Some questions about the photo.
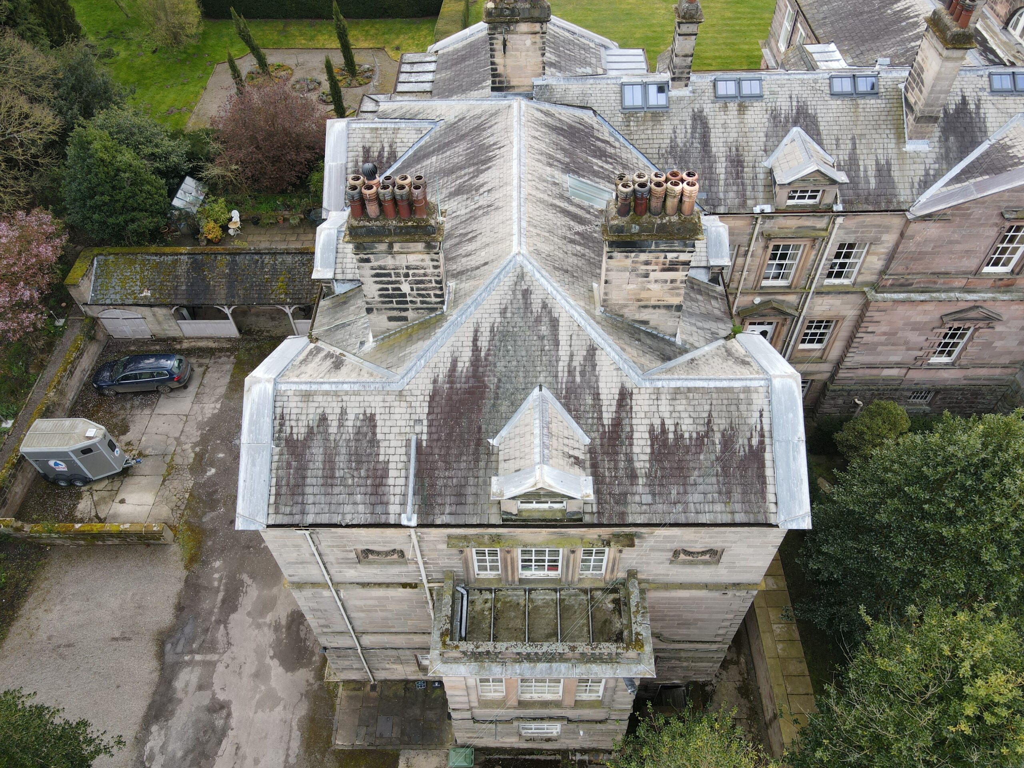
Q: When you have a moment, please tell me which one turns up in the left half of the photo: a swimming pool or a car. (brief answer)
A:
car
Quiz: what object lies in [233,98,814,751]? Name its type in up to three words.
house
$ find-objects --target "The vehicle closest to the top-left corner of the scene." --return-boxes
[87,347,193,396]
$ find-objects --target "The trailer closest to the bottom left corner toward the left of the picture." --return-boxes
[15,420,146,487]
